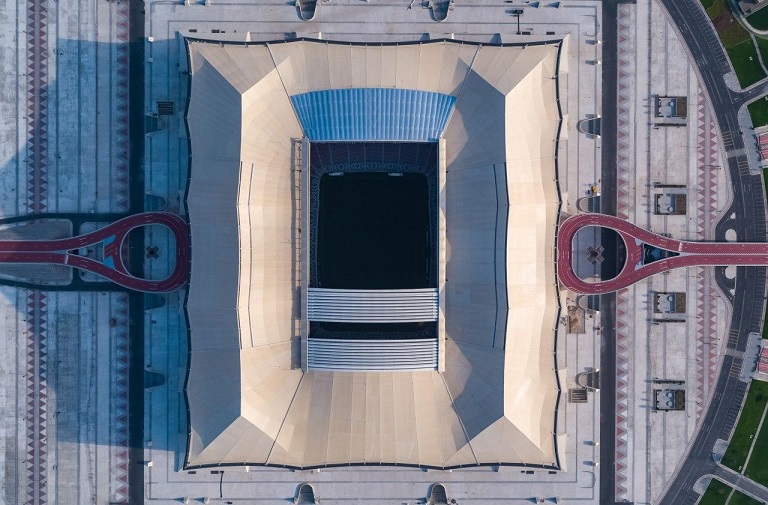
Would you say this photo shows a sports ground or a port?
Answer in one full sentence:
This image shows a sports ground.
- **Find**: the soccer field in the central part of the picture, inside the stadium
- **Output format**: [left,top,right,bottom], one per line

[318,176,430,288]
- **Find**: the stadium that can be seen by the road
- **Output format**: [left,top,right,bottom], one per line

[179,33,568,472]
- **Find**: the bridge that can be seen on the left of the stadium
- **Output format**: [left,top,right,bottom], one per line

[0,211,188,292]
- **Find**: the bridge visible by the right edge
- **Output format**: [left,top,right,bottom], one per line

[558,213,768,294]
